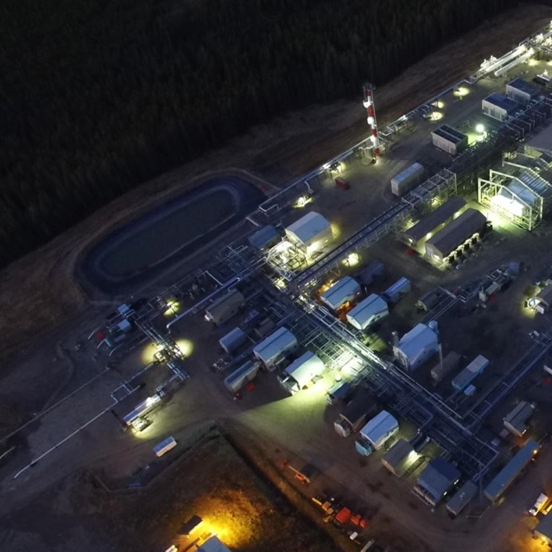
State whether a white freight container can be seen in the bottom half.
No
